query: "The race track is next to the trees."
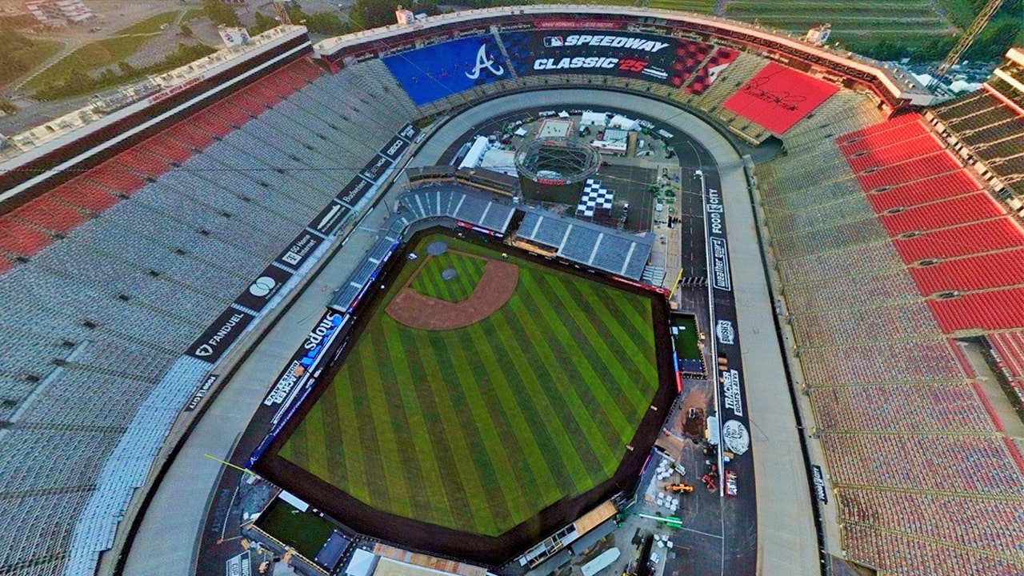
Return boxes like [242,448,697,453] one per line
[98,80,855,576]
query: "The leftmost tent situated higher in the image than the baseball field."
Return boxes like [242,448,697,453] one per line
[459,137,489,172]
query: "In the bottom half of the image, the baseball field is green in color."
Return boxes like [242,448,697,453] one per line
[251,225,680,565]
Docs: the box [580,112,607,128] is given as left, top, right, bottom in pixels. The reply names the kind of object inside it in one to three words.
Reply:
tent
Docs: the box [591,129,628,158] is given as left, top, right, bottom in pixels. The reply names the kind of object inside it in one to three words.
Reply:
building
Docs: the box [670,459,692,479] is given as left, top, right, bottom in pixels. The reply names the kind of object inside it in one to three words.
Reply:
vehicle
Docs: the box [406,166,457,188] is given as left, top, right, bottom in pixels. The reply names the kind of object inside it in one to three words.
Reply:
building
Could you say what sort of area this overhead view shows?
sports ground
